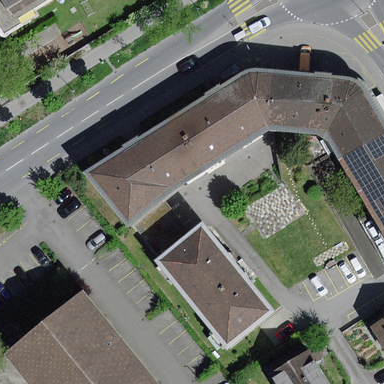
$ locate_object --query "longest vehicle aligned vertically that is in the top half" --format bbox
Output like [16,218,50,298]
[300,46,312,71]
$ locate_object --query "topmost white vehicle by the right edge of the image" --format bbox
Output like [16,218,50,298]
[363,219,380,240]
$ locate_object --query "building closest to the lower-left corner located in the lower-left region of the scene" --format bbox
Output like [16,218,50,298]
[4,290,152,384]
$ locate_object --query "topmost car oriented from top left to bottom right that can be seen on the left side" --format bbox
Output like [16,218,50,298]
[32,244,51,267]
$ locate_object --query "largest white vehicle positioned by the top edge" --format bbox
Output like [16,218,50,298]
[249,16,272,34]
